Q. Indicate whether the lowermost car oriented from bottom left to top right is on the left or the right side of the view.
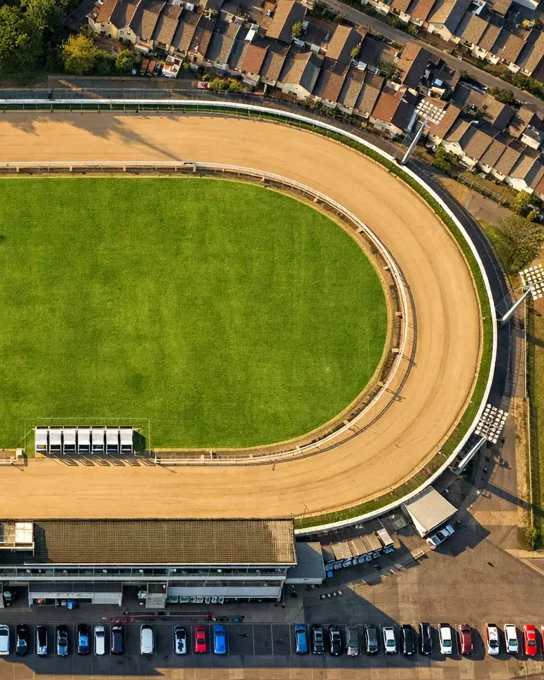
right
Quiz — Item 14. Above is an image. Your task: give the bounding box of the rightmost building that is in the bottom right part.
[400,486,457,535]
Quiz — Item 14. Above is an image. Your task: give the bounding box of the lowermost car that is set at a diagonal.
[425,525,455,550]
